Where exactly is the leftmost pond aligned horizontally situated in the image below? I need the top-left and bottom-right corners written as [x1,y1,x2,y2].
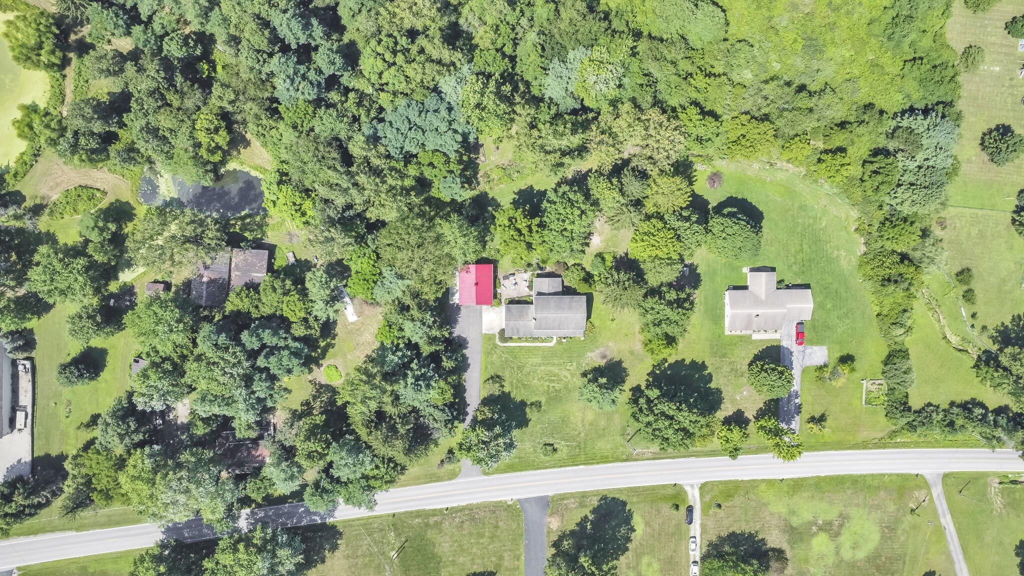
[139,162,266,226]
